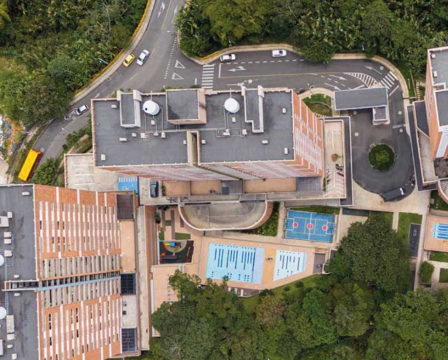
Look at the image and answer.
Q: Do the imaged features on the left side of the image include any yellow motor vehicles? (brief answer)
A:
Yes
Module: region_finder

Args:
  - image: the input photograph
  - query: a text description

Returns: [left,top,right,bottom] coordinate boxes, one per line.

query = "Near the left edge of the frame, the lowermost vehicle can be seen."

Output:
[15,150,41,182]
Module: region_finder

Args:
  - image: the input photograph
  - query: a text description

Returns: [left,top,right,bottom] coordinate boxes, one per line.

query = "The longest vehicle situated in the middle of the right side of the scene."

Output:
[381,189,405,202]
